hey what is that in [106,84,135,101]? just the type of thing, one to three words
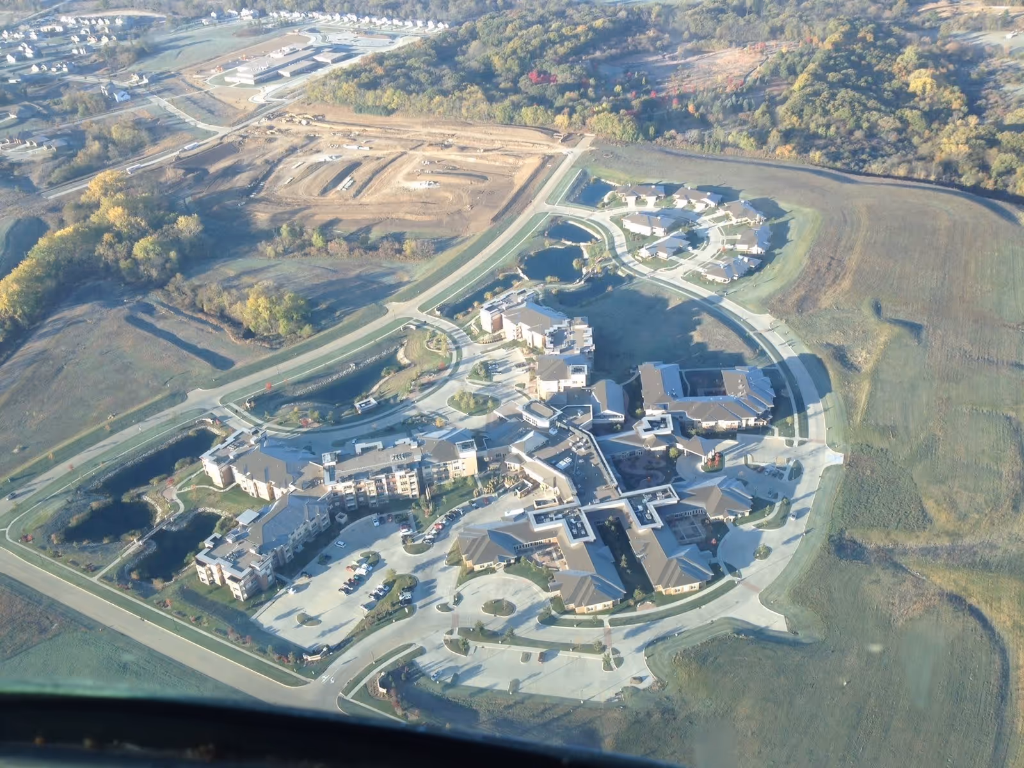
barn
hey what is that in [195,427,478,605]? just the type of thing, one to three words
building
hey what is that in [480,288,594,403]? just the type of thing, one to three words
building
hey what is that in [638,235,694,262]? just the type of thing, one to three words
house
